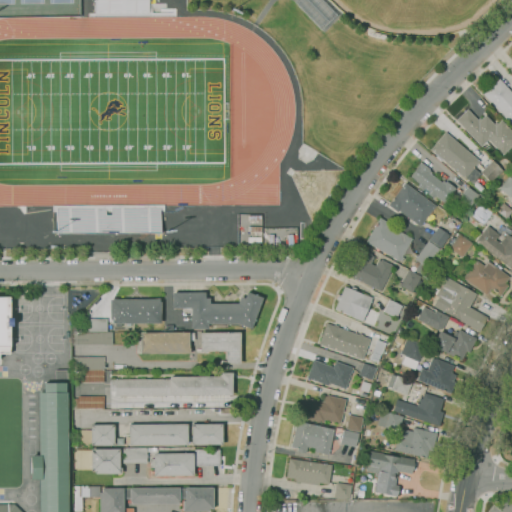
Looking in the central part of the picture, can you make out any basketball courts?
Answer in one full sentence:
No, I see no basketball court in the central part of the picture.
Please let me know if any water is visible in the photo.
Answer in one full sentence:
No, the picture contains no water.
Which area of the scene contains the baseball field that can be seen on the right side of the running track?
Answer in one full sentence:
The baseball field that can be seen on the right side of the running track appears toward the top right of the photo.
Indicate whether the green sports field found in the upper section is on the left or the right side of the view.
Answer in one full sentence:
The green sports field found in the upper section sits on the left side.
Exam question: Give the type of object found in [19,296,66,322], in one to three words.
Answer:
basketball court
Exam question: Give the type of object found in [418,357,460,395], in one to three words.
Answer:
house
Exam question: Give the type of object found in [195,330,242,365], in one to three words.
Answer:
building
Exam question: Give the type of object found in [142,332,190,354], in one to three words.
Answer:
building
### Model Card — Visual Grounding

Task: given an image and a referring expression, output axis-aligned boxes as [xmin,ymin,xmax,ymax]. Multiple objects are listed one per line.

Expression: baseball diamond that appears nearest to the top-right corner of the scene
[332,0,494,36]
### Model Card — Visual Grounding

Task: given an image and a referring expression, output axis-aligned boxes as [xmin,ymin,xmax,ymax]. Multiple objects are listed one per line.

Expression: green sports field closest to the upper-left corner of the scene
[0,39,230,184]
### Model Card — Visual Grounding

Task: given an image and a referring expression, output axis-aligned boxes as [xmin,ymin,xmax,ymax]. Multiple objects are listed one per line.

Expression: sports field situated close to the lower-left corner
[0,378,23,488]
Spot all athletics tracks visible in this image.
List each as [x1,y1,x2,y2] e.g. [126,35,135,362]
[0,17,299,205]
